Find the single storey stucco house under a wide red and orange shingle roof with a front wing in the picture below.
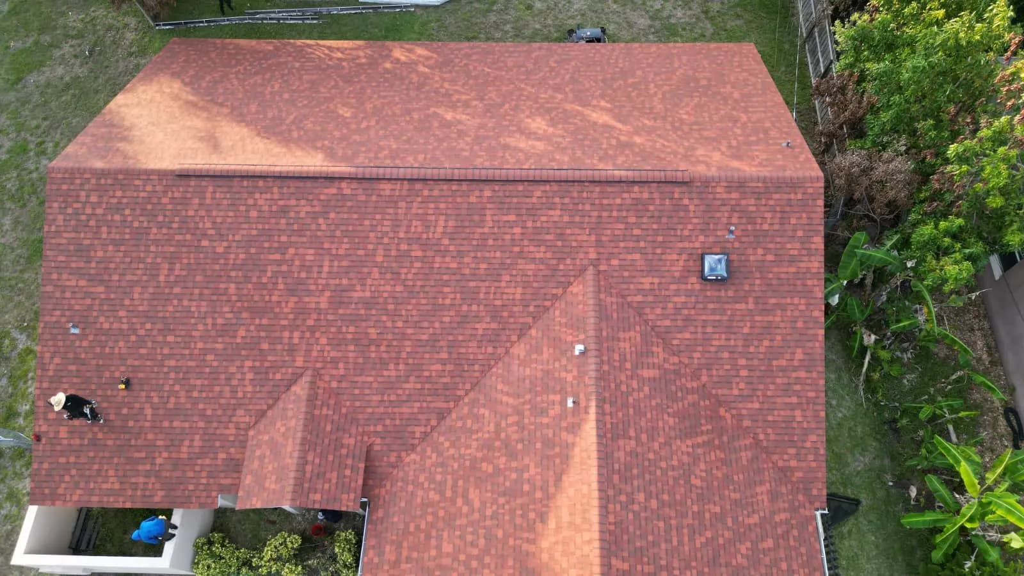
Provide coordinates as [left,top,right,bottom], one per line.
[29,39,831,576]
